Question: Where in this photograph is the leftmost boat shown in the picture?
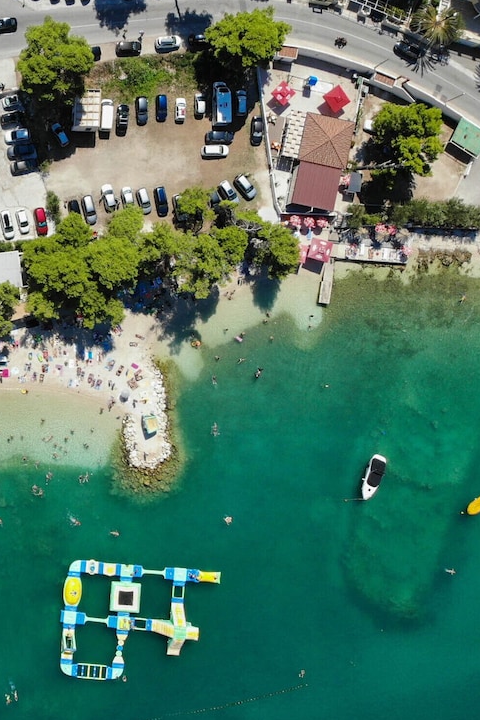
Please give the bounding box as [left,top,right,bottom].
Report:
[361,452,386,500]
